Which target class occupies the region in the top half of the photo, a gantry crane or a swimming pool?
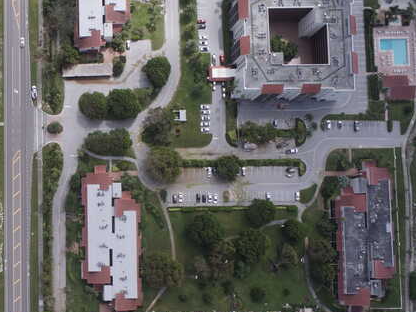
swimming pool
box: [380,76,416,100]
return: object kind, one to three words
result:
building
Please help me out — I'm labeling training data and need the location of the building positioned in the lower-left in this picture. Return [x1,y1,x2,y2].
[80,165,143,312]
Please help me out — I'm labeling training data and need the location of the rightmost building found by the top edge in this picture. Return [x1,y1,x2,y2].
[230,0,359,99]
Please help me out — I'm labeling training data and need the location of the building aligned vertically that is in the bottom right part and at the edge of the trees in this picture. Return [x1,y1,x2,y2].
[329,160,396,312]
